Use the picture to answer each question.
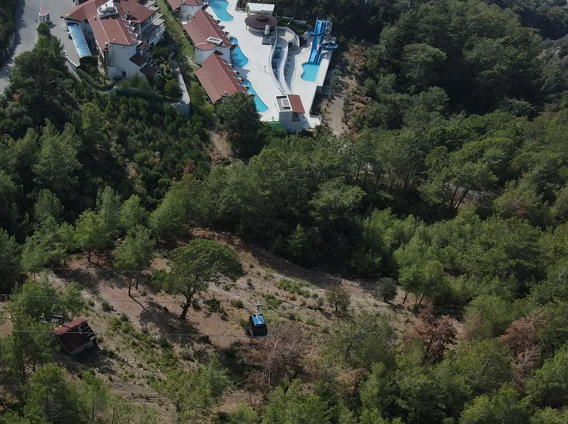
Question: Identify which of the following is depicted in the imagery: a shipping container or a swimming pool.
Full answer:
The one in the frame is a swimming pool.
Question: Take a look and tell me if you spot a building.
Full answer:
Yes, the picture does show a building.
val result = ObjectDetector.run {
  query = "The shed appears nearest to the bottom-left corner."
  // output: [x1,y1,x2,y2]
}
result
[54,317,95,356]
